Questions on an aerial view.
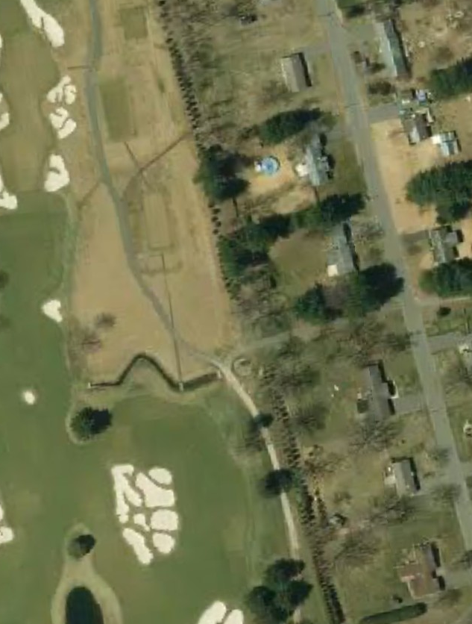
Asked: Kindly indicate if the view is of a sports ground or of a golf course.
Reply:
golf course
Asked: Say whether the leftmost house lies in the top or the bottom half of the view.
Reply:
top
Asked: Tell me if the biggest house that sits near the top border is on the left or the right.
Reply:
right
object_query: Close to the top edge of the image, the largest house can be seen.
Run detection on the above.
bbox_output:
[376,21,406,76]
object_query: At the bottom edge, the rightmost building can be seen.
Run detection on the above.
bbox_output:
[400,544,441,600]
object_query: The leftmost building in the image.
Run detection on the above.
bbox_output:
[283,54,308,90]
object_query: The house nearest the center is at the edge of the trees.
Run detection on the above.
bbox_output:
[329,223,355,276]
